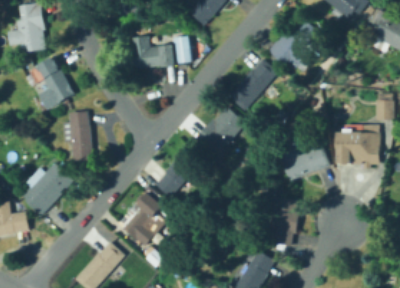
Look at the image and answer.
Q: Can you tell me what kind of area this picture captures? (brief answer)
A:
residential area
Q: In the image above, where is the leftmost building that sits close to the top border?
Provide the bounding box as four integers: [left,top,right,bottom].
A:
[8,4,45,52]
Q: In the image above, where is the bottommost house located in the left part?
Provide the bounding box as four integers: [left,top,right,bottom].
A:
[76,243,124,288]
